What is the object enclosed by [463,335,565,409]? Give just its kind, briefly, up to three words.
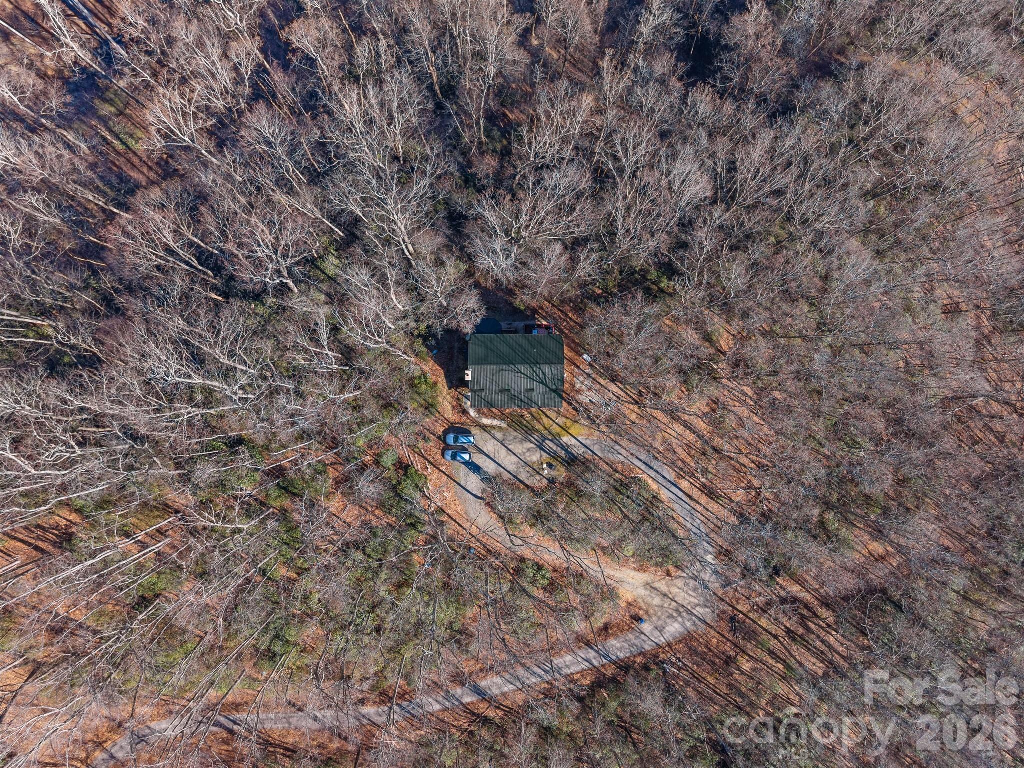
house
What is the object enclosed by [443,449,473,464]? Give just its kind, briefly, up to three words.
car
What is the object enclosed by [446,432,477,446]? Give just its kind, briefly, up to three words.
car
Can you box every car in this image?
[446,432,477,446]
[443,449,473,464]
